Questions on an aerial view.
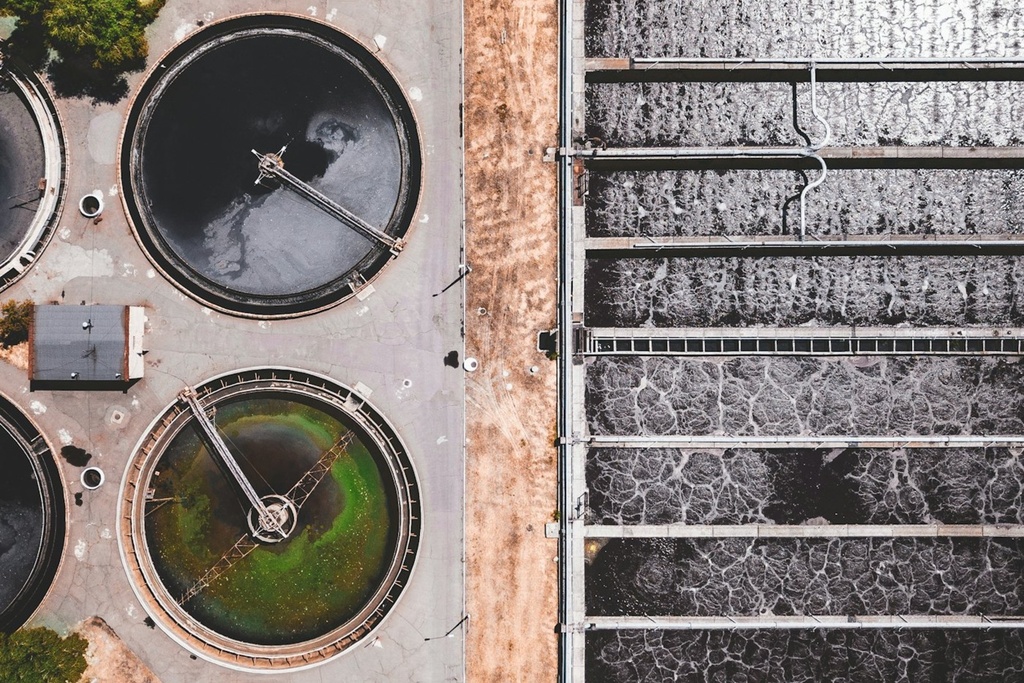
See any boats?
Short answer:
No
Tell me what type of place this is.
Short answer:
industrial area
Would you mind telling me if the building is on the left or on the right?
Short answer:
left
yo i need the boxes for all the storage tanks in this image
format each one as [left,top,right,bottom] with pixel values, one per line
[118,12,424,317]
[0,38,68,292]
[0,392,67,642]
[118,367,424,672]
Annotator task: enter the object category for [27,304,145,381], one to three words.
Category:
building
